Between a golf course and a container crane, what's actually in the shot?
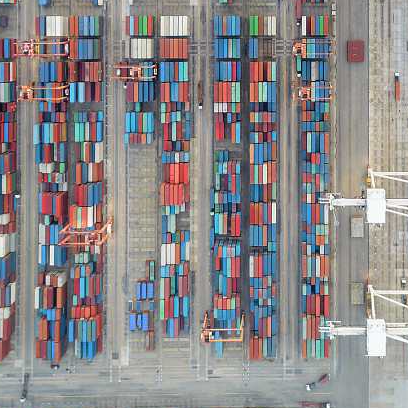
container crane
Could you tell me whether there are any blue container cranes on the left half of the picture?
No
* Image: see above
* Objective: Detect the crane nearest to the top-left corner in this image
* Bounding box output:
[16,39,71,59]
